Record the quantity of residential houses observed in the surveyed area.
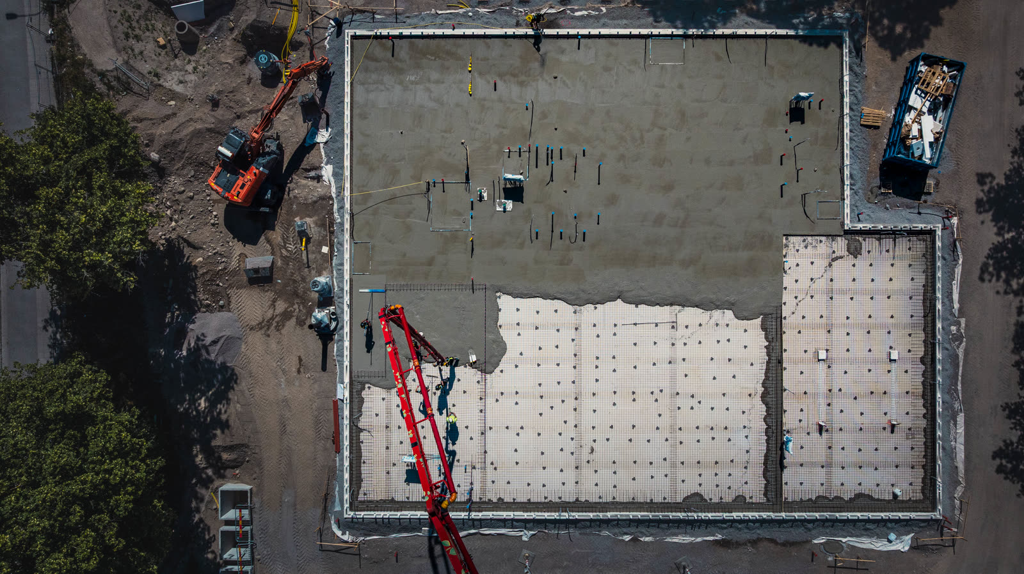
0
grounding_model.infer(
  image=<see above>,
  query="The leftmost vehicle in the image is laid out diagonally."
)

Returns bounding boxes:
[213,54,343,209]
